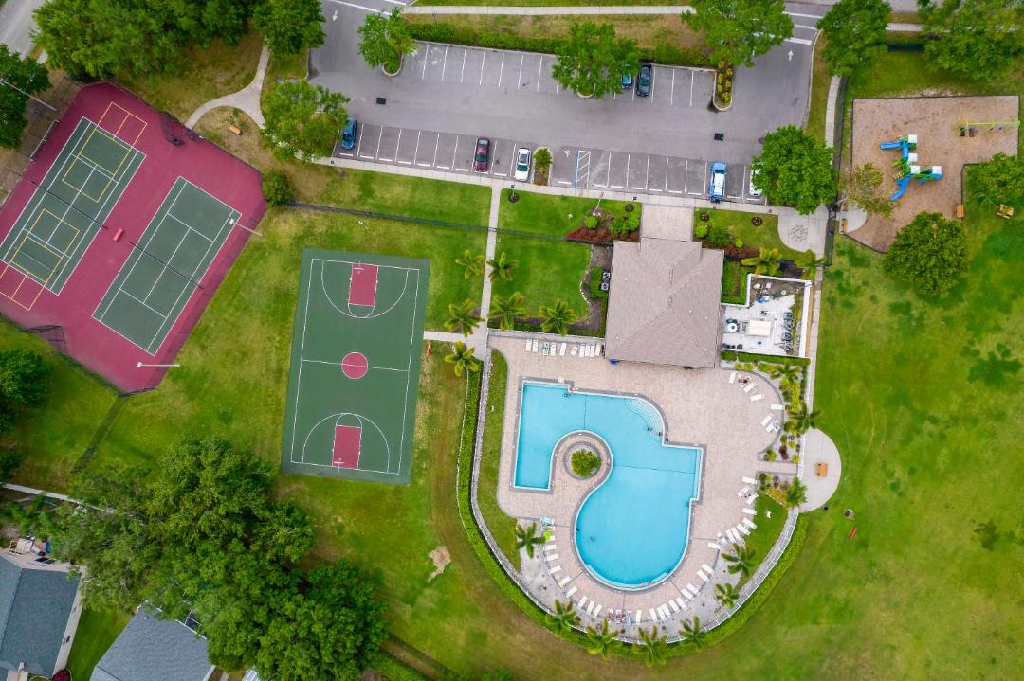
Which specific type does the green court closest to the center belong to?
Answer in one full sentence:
Looking closely, the green court closest to the center is a basketball court.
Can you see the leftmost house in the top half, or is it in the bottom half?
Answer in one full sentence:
The leftmost house sits in the bottom half of the picture.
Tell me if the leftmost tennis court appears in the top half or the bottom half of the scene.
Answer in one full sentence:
It is in the top half that the leftmost tennis court appears.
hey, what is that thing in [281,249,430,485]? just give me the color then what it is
green basketball court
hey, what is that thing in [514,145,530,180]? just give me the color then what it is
white car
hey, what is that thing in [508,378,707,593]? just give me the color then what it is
blue swimming pool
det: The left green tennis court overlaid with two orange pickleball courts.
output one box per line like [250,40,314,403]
[0,101,147,310]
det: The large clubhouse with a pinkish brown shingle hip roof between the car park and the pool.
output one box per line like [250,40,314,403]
[605,237,724,367]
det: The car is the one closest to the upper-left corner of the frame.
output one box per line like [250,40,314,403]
[340,115,357,148]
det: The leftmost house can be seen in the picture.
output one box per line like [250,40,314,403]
[0,545,91,681]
